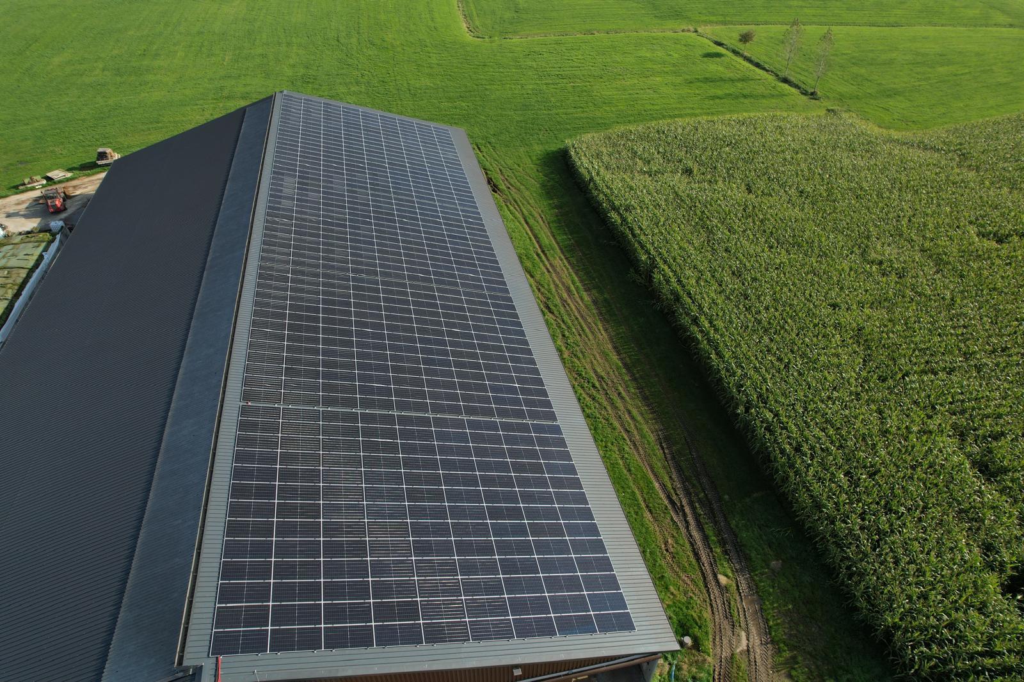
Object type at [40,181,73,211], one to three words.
work vehicle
